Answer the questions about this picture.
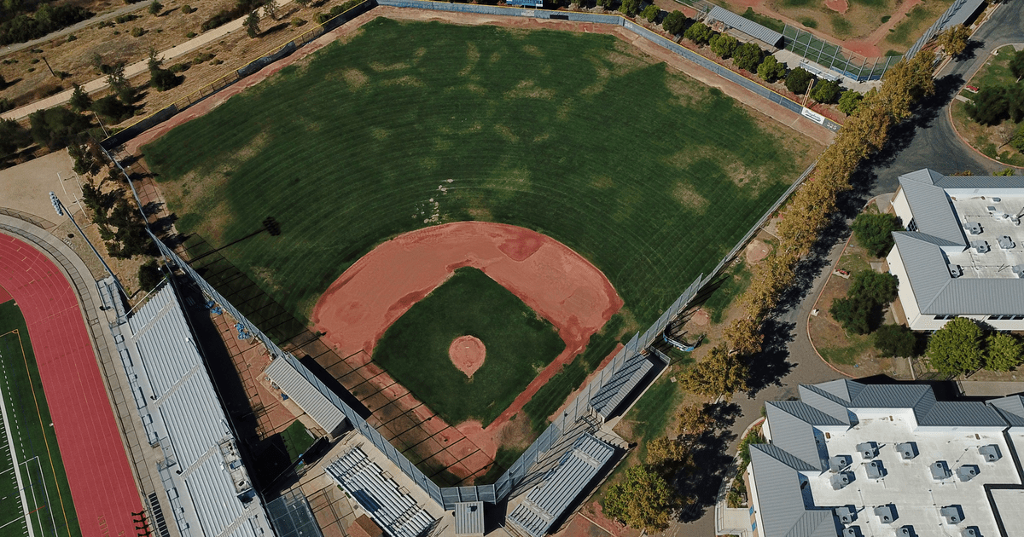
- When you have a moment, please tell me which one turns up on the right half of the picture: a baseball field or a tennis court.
baseball field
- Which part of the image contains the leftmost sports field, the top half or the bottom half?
bottom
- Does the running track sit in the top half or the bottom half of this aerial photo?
bottom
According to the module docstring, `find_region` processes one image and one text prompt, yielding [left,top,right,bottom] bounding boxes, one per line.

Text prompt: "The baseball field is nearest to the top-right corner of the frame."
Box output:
[701,0,969,82]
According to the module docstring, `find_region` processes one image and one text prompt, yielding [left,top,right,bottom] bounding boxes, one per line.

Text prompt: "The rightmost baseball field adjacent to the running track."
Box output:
[105,6,837,510]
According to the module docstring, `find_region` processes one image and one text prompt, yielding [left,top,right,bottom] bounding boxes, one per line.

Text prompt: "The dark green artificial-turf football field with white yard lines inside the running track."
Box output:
[0,300,82,537]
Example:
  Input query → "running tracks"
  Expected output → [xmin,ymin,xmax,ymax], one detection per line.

[0,233,148,537]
